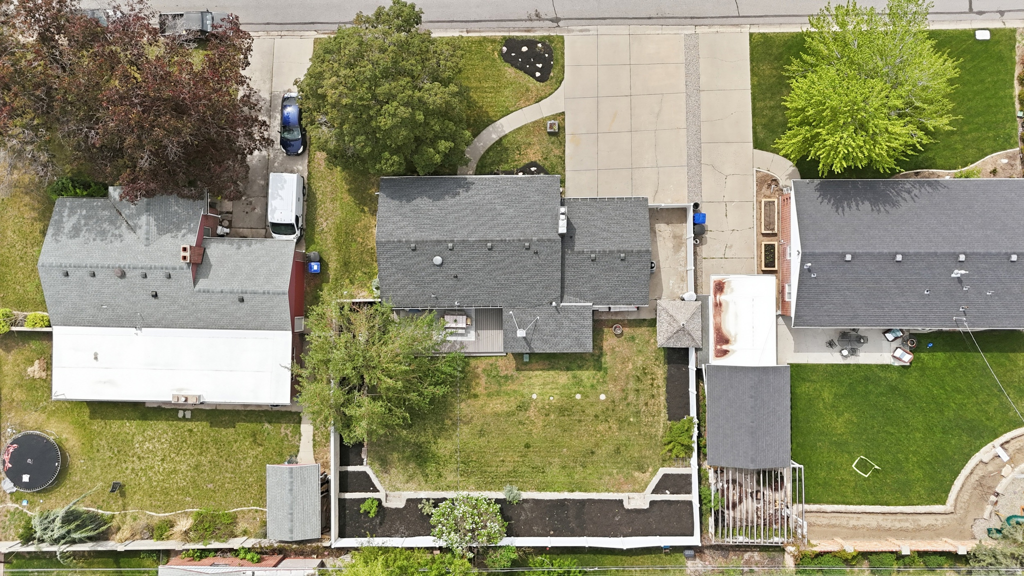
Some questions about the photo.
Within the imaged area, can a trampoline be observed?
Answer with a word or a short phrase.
Yes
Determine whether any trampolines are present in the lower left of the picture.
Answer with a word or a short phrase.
Yes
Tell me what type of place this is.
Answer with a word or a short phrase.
residential area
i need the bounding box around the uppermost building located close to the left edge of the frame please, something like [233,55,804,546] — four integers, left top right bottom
[37,187,305,405]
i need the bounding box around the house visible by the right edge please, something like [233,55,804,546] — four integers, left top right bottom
[776,178,1024,329]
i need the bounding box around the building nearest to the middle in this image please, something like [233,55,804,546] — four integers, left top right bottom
[376,172,652,353]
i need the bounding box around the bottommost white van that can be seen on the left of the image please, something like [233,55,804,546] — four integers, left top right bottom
[270,173,308,245]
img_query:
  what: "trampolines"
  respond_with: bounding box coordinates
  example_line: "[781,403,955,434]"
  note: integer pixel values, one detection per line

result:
[3,428,71,492]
